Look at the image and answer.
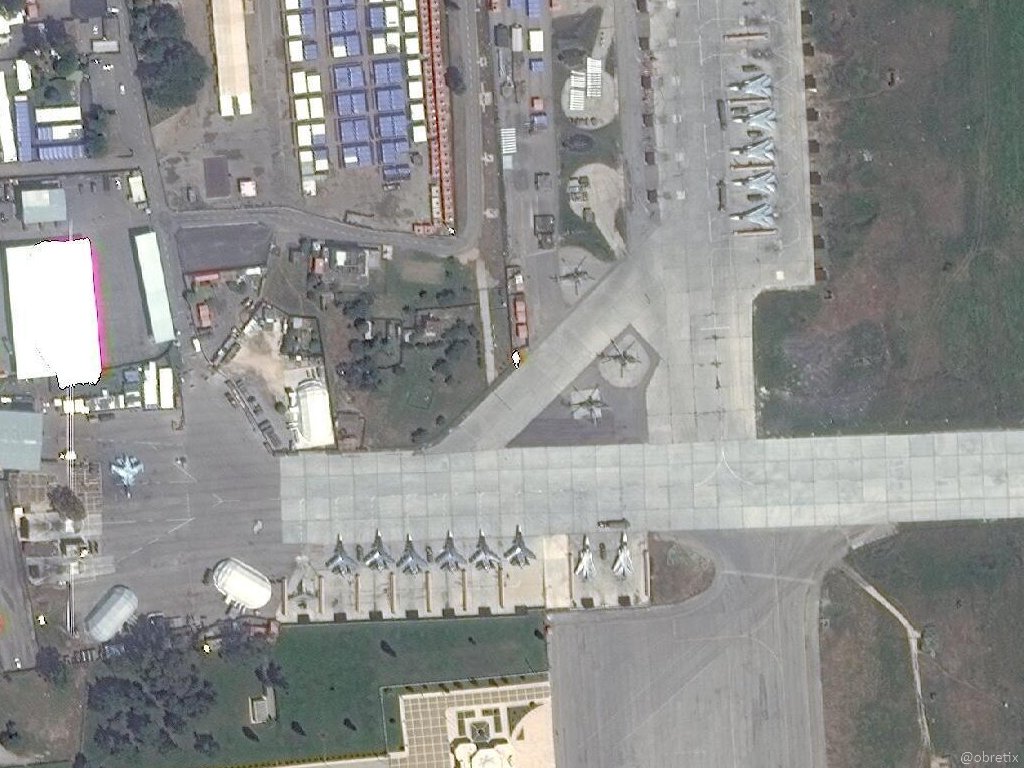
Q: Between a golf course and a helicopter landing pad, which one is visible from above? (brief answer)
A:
helicopter landing pad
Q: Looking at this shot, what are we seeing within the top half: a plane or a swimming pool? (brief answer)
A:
plane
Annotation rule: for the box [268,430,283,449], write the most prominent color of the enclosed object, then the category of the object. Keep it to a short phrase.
gray vehicle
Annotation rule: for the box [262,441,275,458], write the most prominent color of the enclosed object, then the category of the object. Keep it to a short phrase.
gray vehicle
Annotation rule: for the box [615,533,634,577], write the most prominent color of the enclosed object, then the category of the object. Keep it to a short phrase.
white airplane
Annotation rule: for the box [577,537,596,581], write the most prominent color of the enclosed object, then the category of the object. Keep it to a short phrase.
white airplane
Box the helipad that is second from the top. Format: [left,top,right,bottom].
[598,334,650,388]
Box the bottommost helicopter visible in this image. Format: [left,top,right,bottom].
[564,383,610,422]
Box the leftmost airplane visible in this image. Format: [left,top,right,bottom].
[112,453,144,497]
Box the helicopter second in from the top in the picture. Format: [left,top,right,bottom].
[596,340,642,378]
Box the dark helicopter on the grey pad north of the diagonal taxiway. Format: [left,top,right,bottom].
[550,257,596,296]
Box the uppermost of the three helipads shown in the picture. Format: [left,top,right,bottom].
[556,243,614,304]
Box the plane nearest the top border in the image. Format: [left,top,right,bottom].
[731,76,774,99]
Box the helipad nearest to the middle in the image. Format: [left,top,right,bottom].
[571,388,601,418]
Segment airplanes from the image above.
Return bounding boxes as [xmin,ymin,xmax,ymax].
[436,530,468,574]
[471,529,501,573]
[577,537,596,581]
[733,171,776,194]
[615,533,634,577]
[731,139,774,163]
[112,453,144,497]
[366,529,397,572]
[506,525,538,569]
[398,535,428,576]
[287,555,318,597]
[327,534,359,577]
[733,107,777,130]
[730,205,775,228]
[731,76,774,99]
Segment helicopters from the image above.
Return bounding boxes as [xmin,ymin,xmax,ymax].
[550,257,596,296]
[596,340,642,378]
[564,383,610,422]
